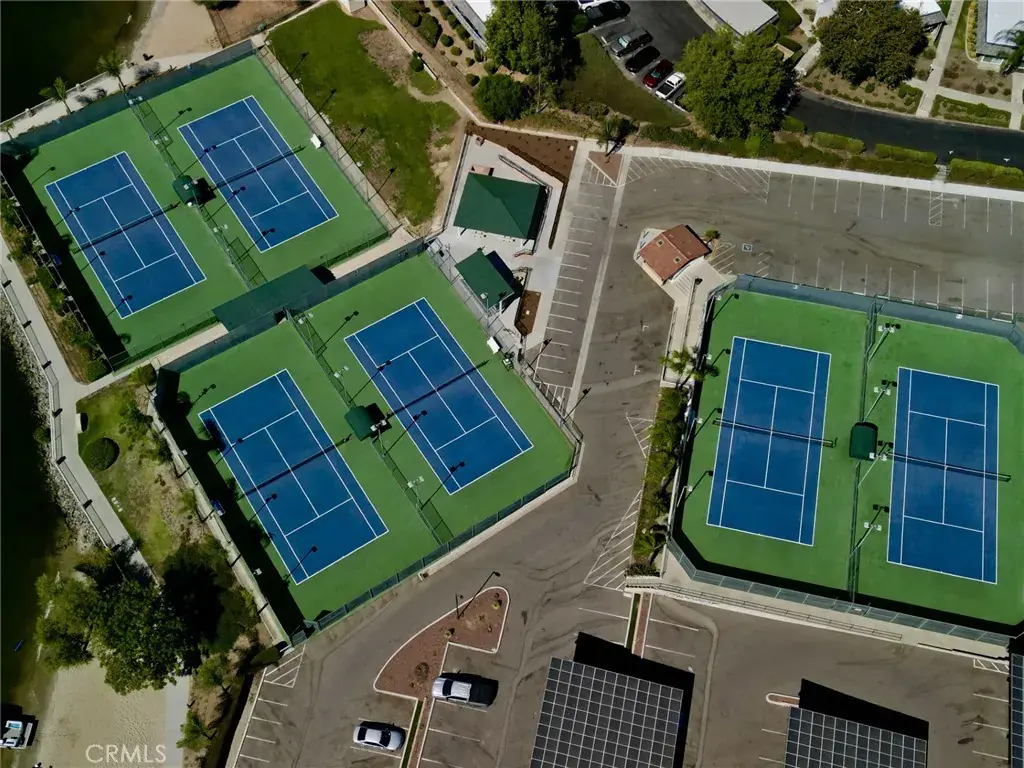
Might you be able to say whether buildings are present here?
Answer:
Yes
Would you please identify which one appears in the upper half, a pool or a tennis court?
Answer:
tennis court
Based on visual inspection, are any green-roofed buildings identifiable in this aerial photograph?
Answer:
Yes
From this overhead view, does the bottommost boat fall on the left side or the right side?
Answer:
left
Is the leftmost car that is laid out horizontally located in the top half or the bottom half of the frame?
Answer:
bottom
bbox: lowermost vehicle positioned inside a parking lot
[353,723,406,750]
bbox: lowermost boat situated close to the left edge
[0,715,36,756]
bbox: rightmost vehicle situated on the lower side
[431,676,492,707]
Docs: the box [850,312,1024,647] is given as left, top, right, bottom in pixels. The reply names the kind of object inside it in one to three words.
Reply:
tennis court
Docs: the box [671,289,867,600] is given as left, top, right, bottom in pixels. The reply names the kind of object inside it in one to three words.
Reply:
tennis court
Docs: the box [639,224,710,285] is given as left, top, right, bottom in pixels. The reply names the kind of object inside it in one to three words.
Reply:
building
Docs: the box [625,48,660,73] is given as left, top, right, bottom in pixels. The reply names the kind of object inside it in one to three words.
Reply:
car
